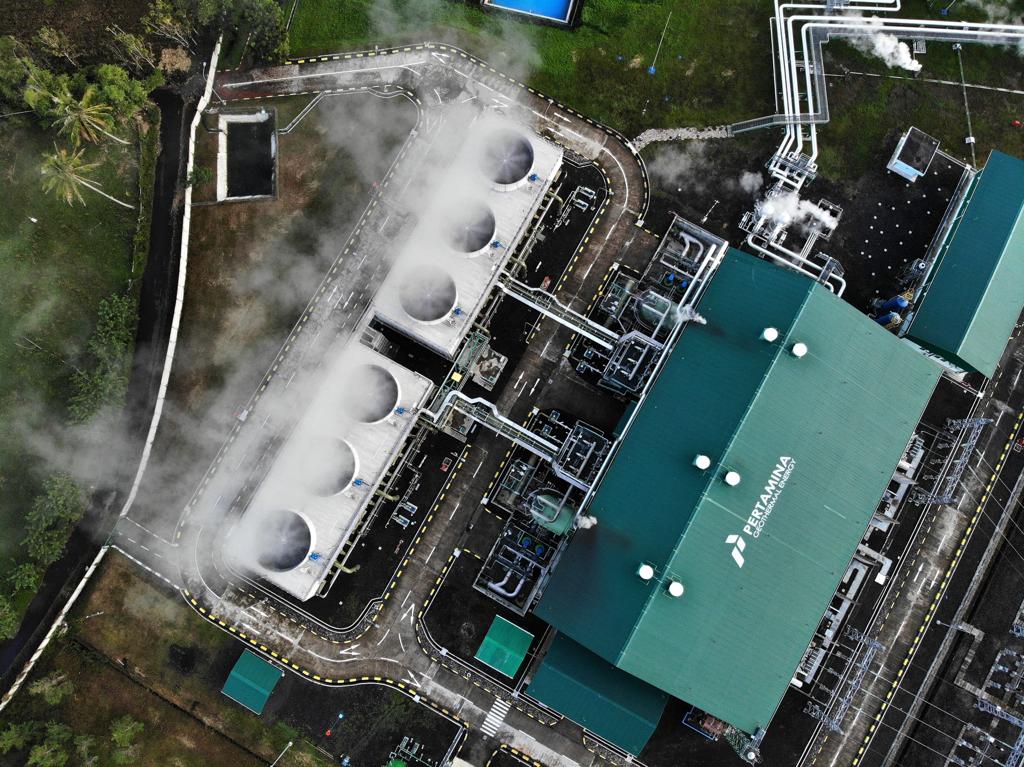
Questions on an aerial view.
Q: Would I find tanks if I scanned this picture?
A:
Yes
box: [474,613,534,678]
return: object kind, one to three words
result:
shed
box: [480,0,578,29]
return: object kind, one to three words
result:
pond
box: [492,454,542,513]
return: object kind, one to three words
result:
storage tank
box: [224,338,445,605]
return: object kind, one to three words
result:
cooling tower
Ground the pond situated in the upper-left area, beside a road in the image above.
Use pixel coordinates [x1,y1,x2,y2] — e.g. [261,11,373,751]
[206,110,278,201]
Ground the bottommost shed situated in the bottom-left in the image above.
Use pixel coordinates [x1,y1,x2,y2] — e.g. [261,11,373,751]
[221,646,286,714]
